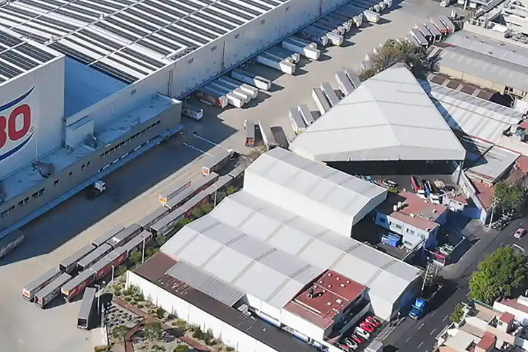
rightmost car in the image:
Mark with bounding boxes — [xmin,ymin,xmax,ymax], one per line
[511,226,528,239]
